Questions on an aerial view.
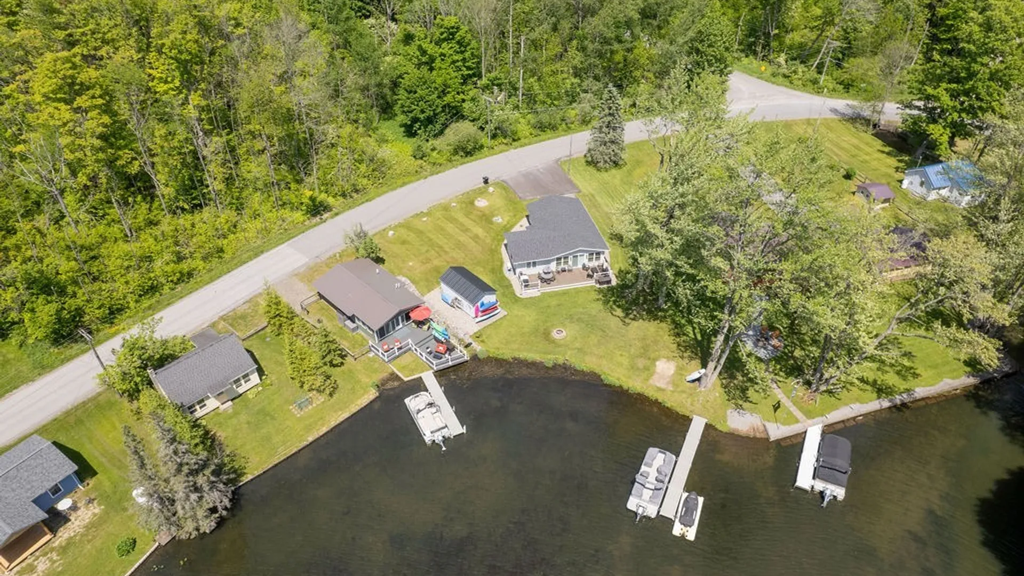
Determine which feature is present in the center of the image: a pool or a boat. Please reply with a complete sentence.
It is a boat that can be seen in the center of the image.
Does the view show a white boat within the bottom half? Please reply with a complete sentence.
Yes, a white boat shows up within the bottom half.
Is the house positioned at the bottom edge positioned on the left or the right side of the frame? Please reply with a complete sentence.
You can find the house positioned at the bottom edge on the left side of the picture.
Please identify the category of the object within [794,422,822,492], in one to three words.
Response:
pier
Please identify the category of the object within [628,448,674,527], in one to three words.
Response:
boat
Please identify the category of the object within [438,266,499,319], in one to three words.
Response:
shed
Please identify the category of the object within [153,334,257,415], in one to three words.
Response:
house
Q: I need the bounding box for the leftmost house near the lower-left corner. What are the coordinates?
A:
[0,433,90,576]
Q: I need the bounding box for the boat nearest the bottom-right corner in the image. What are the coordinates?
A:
[814,433,852,511]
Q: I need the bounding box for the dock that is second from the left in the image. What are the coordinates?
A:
[659,415,707,521]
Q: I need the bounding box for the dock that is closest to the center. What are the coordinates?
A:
[421,370,466,438]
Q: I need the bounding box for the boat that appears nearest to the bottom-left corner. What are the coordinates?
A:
[408,391,451,454]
